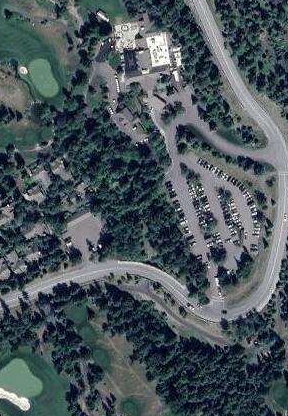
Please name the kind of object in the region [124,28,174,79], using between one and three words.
building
